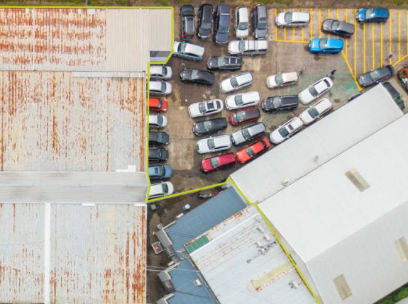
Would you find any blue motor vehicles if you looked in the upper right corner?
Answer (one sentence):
Yes, in the upper right corner there is a blue motor vehicle.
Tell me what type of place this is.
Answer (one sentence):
This looks like an industrial area.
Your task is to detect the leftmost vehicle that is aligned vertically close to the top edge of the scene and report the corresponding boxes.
[177,3,195,41]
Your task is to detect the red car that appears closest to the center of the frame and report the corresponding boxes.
[201,153,235,172]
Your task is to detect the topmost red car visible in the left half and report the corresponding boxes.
[149,96,166,113]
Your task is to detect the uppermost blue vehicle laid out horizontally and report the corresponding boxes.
[353,7,390,25]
